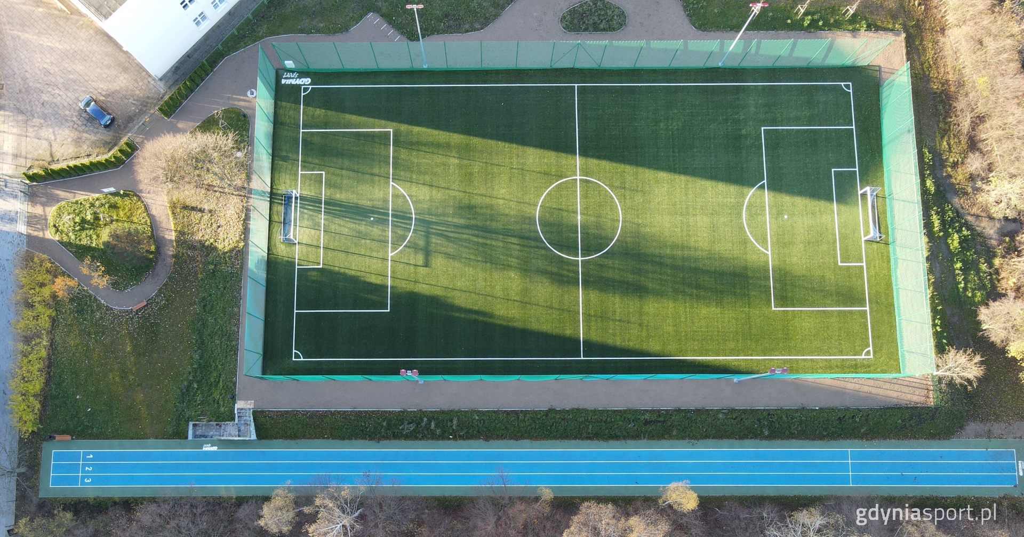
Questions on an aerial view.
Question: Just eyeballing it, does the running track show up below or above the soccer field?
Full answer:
The running track is found below the soccer field in the photo.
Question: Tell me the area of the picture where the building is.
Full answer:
You can find the building in the top left area of the picture.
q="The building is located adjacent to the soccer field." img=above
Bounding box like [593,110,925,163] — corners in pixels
[72,0,239,78]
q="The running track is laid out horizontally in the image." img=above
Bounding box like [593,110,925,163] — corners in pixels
[37,439,1024,500]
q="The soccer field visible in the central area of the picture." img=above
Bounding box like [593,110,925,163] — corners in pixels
[263,66,897,376]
